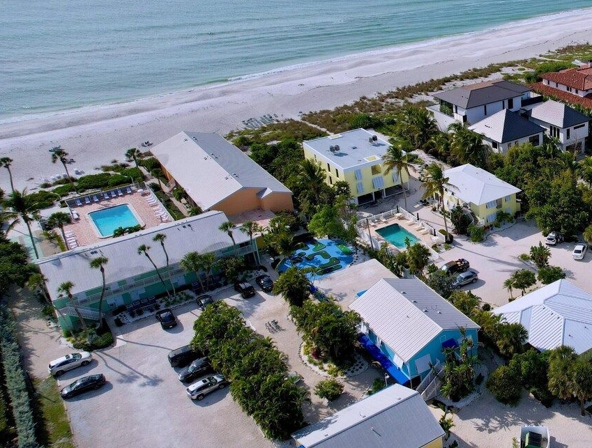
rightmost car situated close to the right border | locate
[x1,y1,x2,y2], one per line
[573,243,589,261]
